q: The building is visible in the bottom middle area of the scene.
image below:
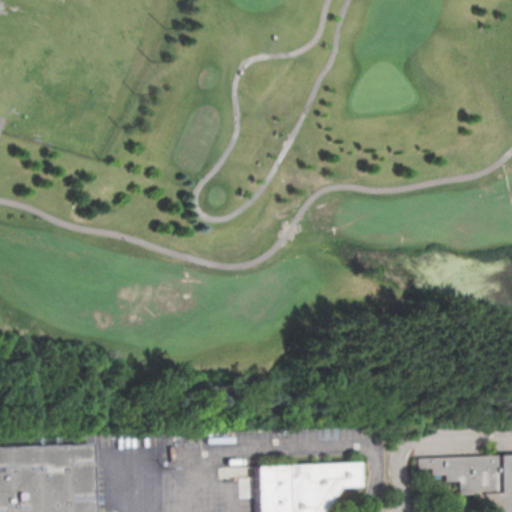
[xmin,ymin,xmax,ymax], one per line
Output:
[253,462,366,512]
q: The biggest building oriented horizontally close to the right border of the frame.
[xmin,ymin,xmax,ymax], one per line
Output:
[414,455,500,494]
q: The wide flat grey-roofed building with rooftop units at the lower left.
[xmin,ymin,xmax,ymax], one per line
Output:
[0,444,96,512]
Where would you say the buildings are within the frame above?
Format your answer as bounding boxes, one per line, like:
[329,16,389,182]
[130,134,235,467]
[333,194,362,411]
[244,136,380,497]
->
[414,455,500,494]
[0,444,96,512]
[253,462,366,512]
